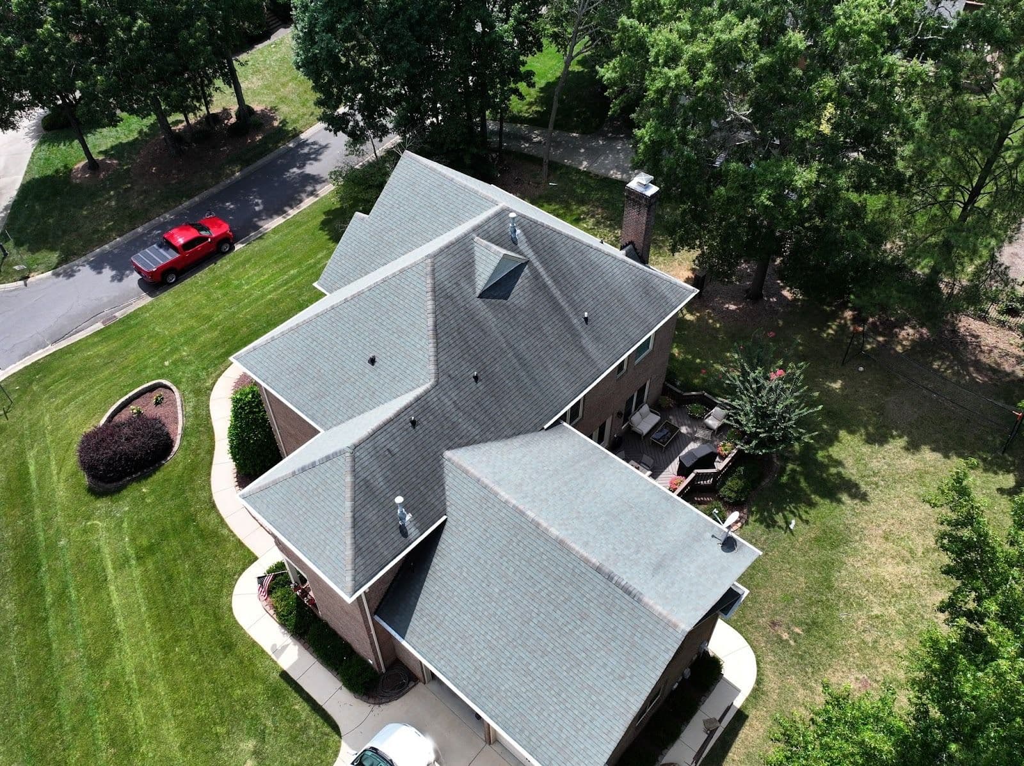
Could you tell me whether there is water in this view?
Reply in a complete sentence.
No, there's no water in this view.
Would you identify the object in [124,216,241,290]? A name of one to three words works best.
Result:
truck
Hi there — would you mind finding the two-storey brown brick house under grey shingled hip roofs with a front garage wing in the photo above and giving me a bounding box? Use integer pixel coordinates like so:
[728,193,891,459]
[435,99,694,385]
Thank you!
[224,151,769,766]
